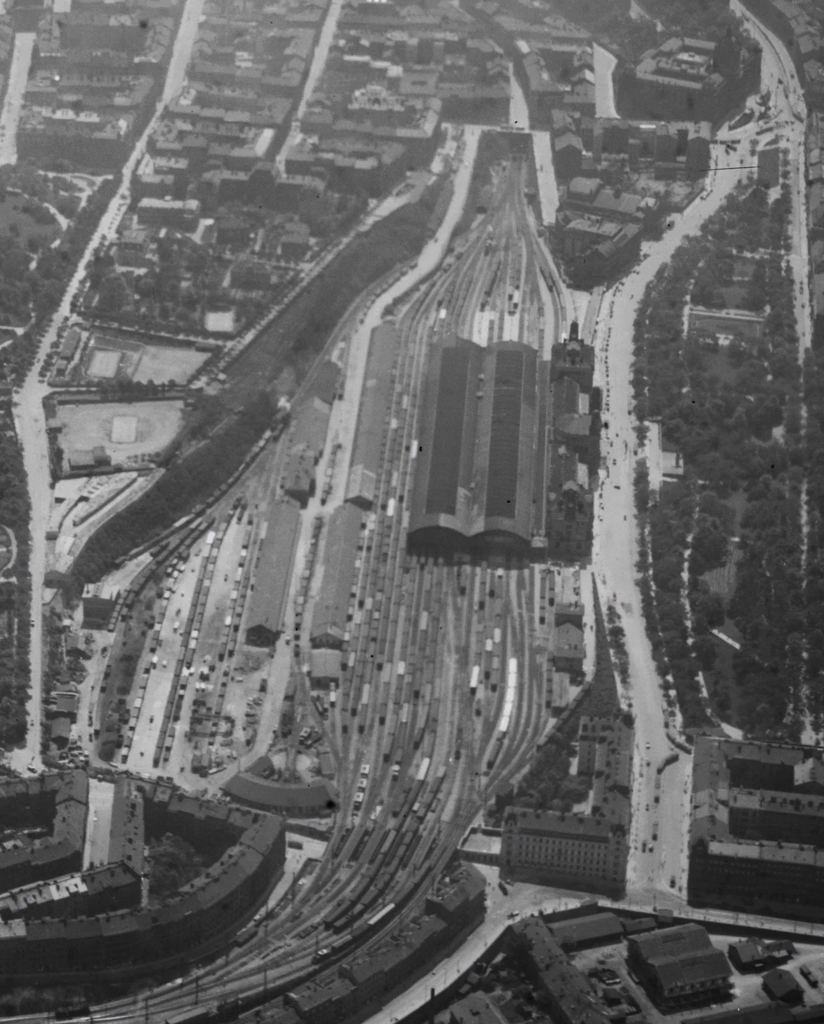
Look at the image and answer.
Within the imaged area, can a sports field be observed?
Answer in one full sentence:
Yes, there is a sports field in the image.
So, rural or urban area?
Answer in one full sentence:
The area shown here is urban.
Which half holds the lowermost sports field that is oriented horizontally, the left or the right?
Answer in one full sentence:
You can find the lowermost sports field that is oriented horizontally on the left side of the picture.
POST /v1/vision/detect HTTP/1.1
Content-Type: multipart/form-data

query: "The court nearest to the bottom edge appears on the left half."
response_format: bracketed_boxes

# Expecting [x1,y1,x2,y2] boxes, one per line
[111,417,137,442]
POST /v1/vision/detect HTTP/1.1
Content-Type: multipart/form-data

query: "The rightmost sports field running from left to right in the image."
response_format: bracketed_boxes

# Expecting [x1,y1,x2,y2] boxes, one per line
[132,346,211,382]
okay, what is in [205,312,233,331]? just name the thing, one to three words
sports court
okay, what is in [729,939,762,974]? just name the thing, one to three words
house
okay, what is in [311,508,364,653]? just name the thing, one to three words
shed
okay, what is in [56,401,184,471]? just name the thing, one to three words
sports field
